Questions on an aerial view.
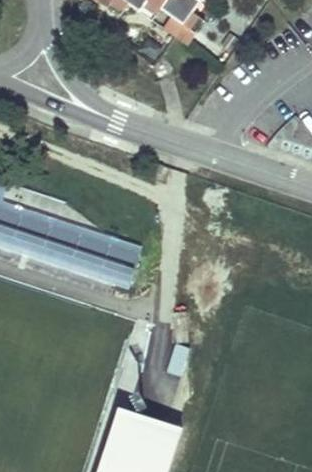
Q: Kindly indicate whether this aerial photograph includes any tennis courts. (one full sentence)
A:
No, I can't see a single tennis court in this photo.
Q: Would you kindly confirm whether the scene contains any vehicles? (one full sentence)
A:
Yes, this view includes a vehicle.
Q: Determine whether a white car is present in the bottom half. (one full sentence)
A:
No, the scene shows no white car in the bottom half.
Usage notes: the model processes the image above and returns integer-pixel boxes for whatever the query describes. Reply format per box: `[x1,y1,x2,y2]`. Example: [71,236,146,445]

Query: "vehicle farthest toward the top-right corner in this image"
[294,18,312,40]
